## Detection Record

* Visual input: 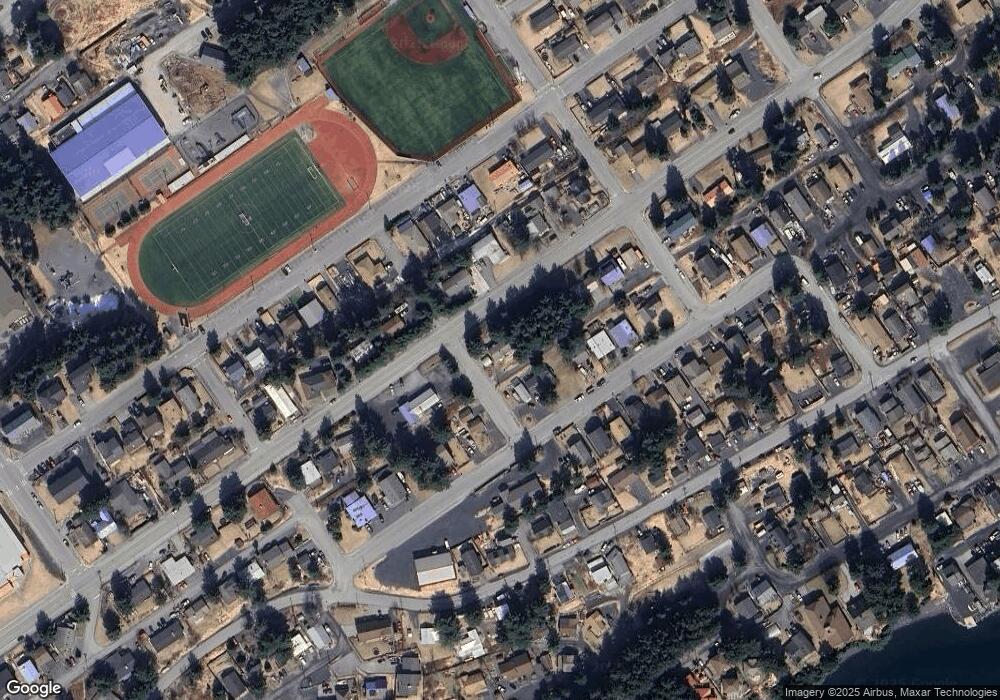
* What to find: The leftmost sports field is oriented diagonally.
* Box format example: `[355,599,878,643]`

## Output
[139,129,347,307]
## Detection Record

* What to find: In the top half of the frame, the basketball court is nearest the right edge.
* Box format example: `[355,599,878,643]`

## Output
[130,149,187,201]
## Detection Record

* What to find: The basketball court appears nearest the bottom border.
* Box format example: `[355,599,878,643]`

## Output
[82,180,141,236]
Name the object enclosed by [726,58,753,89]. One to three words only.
house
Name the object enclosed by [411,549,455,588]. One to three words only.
shed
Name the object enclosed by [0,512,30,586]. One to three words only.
building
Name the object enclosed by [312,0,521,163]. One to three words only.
baseball field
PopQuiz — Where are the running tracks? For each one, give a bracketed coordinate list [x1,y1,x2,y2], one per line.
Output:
[118,99,376,319]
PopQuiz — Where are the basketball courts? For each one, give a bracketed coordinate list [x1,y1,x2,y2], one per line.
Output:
[130,149,187,201]
[82,180,141,236]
